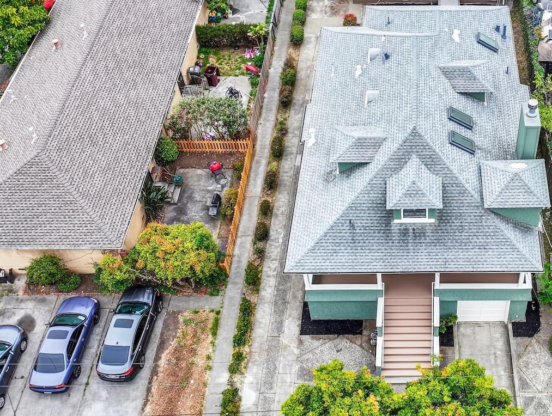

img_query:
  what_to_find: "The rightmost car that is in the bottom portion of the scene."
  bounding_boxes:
[93,286,157,375]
